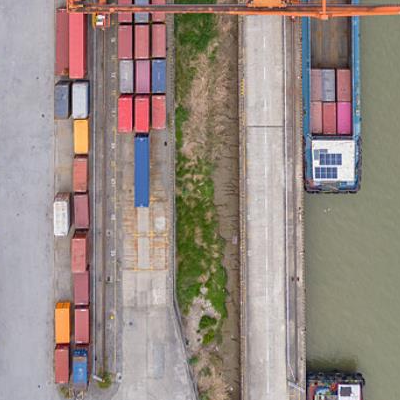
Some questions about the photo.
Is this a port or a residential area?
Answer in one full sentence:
The area seen from above is a port.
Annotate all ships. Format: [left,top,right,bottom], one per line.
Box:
[306,367,367,400]
[303,0,364,195]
